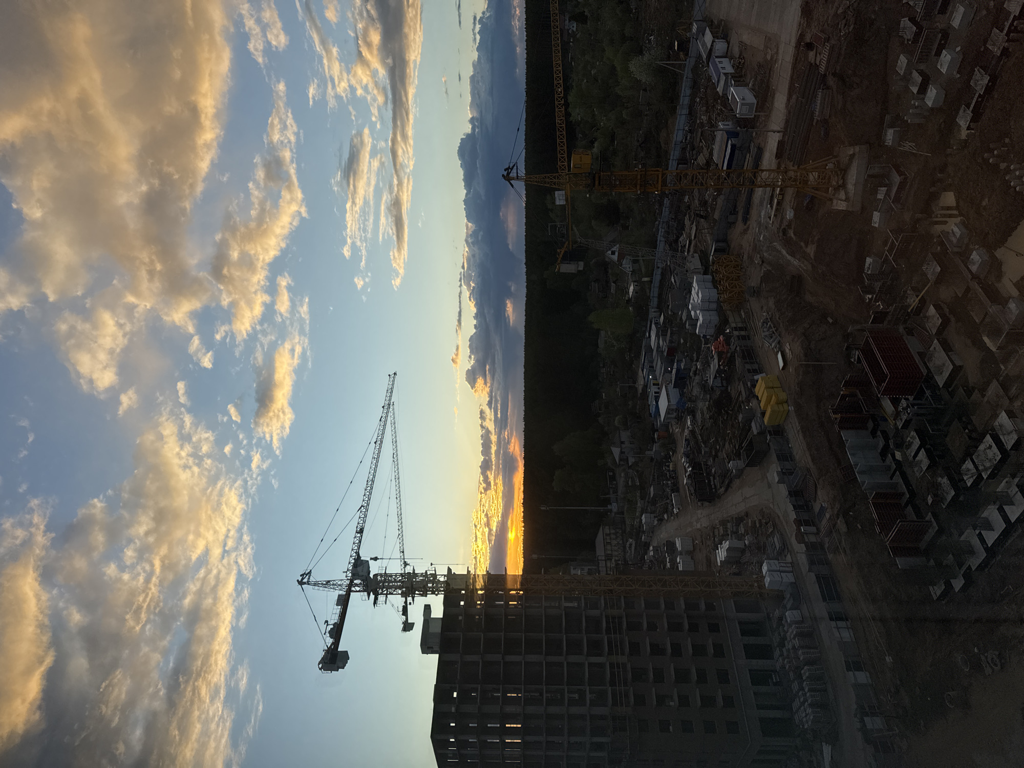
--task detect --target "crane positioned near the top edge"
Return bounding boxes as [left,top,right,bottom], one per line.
[501,0,858,276]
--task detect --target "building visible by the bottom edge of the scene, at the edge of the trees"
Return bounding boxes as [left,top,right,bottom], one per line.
[419,567,787,768]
